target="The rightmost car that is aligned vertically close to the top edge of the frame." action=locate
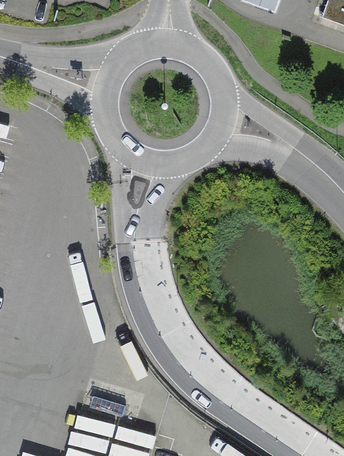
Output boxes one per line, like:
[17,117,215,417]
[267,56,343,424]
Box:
[34,0,48,22]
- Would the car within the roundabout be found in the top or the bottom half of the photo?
top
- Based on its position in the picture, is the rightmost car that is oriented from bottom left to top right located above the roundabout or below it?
below it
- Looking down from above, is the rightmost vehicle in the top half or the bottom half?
bottom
